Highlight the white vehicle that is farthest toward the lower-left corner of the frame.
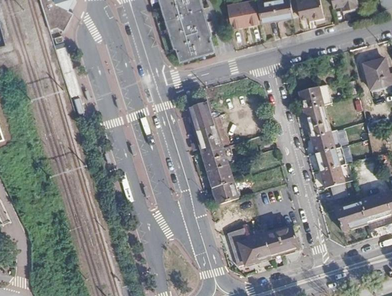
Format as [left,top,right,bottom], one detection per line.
[120,176,134,202]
